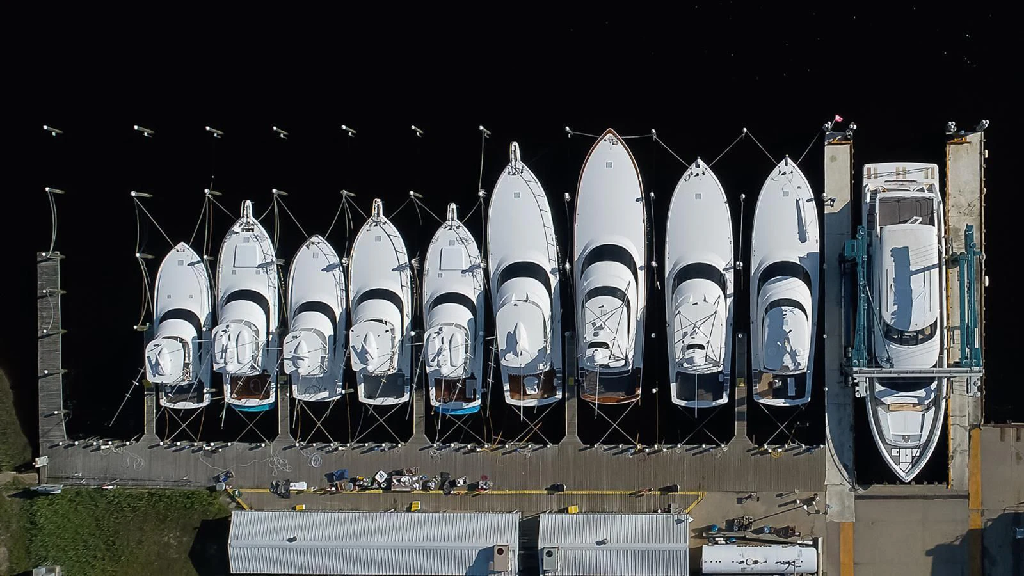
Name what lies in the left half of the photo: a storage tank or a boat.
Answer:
boat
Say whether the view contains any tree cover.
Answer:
No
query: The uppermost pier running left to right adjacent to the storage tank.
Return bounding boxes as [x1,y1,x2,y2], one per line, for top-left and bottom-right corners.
[39,443,826,491]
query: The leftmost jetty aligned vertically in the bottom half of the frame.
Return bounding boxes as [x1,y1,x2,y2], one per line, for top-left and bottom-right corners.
[38,253,68,444]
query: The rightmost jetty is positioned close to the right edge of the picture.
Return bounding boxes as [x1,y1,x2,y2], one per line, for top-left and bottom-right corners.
[945,133,988,492]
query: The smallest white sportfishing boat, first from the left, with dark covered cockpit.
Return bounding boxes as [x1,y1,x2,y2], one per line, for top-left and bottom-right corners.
[111,242,215,424]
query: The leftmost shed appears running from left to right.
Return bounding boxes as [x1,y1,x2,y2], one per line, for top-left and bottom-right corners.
[224,508,520,575]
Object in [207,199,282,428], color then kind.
white boat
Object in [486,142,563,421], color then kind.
white boat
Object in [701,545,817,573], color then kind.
white storage tank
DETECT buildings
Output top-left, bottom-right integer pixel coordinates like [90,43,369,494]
[537,511,690,576]
[224,508,520,575]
